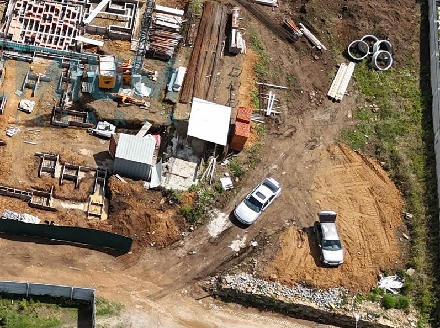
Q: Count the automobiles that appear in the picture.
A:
2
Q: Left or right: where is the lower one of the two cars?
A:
right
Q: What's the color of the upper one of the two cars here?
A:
white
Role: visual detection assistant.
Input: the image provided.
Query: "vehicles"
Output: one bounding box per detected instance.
[232,174,285,229]
[316,207,348,268]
